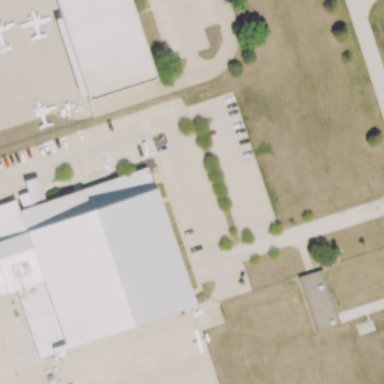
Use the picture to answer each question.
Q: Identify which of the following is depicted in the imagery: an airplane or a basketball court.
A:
airplane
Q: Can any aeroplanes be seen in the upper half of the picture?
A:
Yes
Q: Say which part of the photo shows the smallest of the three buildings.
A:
bottom right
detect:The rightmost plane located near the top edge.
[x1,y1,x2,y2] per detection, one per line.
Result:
[20,10,51,38]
